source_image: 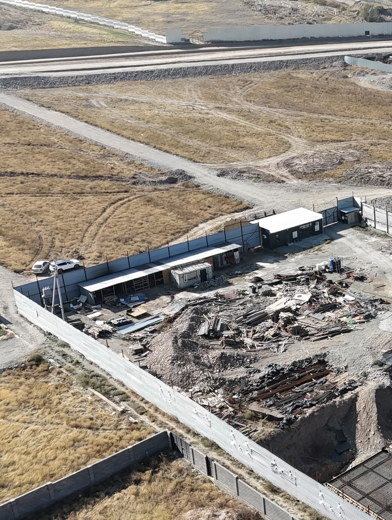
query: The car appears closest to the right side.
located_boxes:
[53,259,81,273]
